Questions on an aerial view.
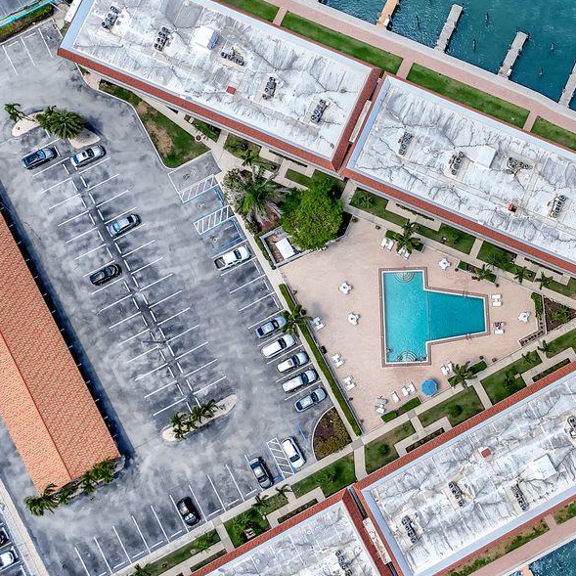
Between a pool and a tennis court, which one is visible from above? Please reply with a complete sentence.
The one in the frame is a pool.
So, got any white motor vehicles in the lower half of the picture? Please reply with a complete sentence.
Yes, a white motor vehicle appears in the lower half of the picture.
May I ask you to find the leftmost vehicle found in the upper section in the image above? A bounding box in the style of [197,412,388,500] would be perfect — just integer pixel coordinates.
[19,145,60,171]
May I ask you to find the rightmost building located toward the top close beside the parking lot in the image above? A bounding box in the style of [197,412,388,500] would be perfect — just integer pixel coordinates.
[339,69,576,278]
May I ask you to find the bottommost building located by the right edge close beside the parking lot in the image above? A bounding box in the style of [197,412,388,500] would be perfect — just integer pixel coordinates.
[351,362,576,576]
